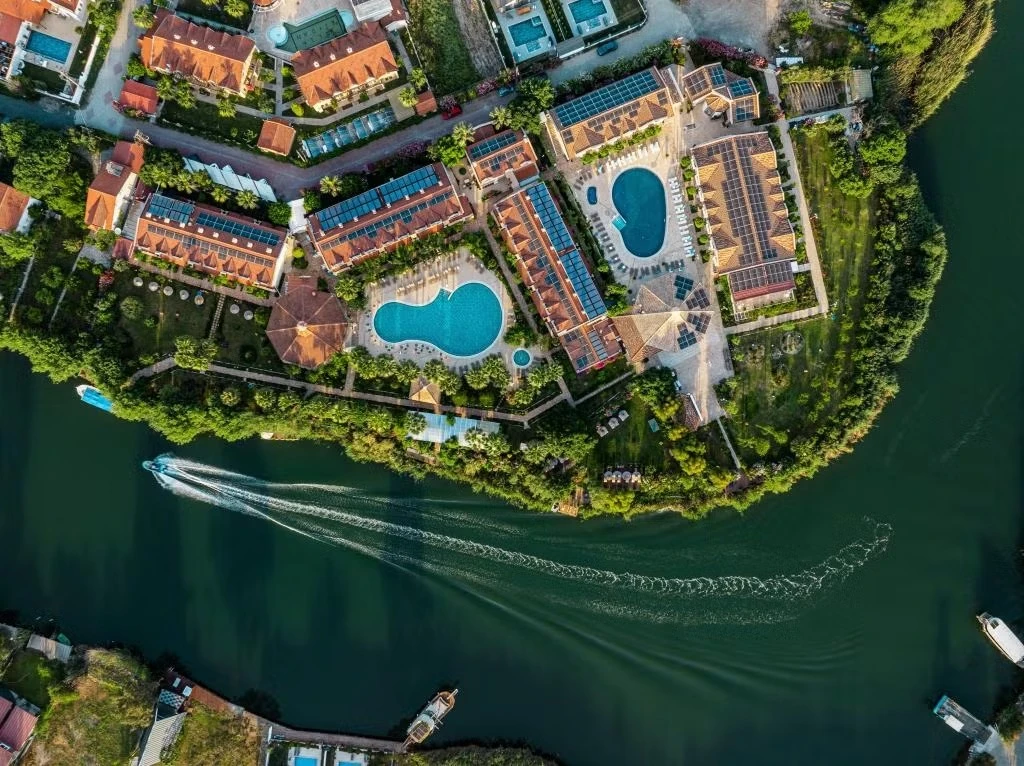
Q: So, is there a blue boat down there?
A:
Yes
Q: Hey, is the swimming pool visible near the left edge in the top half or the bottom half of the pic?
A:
top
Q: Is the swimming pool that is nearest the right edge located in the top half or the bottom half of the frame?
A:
top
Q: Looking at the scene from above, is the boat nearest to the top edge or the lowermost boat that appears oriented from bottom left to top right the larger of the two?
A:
the lowermost boat that appears oriented from bottom left to top right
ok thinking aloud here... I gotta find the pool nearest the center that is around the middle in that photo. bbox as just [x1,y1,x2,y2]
[511,347,532,368]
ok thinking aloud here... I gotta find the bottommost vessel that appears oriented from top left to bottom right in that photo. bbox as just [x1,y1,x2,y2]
[930,691,996,751]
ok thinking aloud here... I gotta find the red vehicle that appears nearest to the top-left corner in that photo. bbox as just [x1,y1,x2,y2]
[441,103,462,118]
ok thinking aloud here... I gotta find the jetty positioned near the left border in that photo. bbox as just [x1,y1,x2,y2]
[27,634,73,662]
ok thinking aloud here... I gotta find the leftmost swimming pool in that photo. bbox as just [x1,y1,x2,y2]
[27,30,73,65]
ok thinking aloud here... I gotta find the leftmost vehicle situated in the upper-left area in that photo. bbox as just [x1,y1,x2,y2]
[186,146,200,163]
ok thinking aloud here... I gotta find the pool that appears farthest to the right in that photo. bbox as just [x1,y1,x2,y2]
[610,166,668,258]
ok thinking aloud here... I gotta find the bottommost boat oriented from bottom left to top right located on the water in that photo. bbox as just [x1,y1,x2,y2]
[406,690,456,755]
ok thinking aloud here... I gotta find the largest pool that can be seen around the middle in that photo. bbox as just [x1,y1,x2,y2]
[372,279,505,358]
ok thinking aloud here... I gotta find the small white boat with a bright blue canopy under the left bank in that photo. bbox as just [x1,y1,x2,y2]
[77,387,115,413]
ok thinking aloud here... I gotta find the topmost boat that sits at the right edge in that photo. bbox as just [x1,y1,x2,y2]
[981,612,1024,671]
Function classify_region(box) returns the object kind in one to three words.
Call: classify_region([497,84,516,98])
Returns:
car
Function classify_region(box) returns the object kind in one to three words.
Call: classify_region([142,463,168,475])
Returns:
boat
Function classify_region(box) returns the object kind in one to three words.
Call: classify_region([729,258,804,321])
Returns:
building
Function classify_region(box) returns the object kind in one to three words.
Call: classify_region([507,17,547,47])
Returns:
swimming pool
